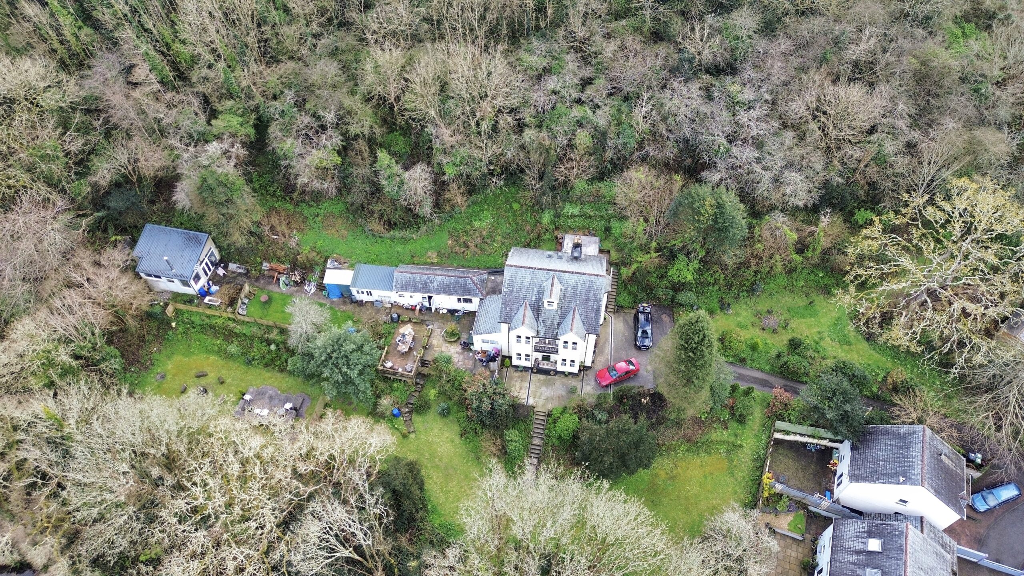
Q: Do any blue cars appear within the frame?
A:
Yes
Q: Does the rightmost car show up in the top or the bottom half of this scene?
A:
bottom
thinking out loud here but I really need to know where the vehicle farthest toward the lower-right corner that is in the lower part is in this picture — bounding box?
[967,482,1024,516]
